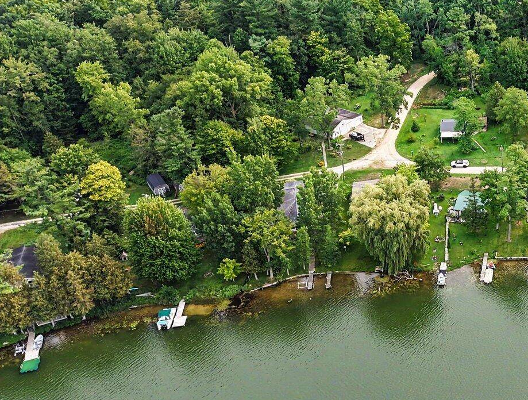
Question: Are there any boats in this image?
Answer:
Yes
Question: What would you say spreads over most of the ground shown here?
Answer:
trees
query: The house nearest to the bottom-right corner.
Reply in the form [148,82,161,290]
[447,187,482,224]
